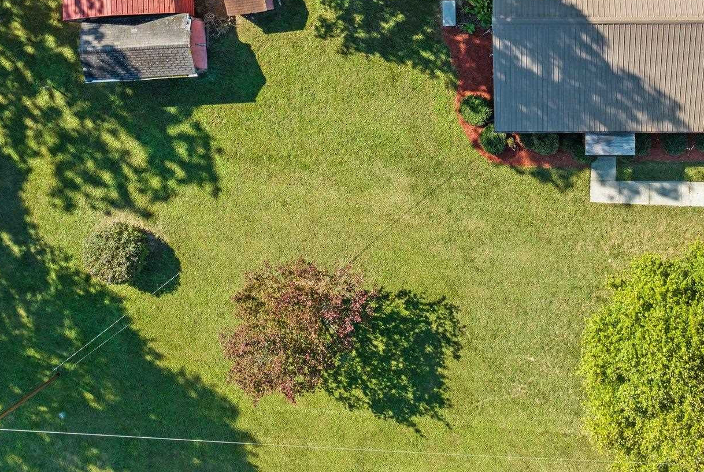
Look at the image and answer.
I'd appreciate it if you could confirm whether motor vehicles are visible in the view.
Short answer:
No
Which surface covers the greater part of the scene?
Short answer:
grass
